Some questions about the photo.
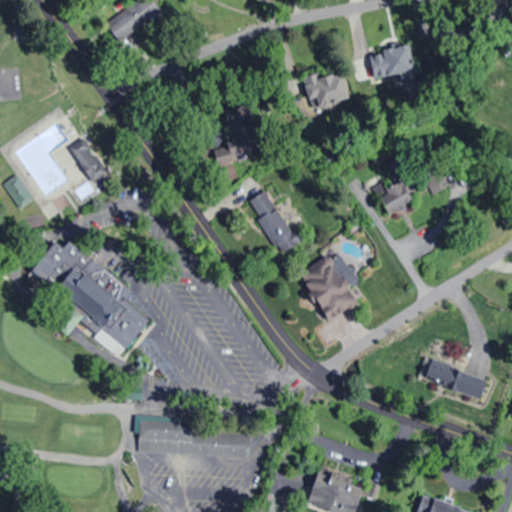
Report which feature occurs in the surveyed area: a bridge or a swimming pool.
swimming pool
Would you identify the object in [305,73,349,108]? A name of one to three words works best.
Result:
house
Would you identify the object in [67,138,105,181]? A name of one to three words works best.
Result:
building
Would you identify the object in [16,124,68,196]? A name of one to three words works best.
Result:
swimming pool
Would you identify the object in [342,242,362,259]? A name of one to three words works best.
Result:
swimming pool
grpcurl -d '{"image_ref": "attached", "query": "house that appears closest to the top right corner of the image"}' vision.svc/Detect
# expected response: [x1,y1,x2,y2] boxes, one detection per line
[372,44,418,78]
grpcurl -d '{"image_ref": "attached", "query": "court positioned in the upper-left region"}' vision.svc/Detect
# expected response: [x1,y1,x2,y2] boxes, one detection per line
[0,67,22,101]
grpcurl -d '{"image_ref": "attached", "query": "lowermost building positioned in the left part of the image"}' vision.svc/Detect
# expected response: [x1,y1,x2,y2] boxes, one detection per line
[134,416,250,461]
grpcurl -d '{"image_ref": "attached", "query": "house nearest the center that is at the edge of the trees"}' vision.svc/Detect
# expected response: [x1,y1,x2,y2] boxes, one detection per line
[250,192,300,250]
